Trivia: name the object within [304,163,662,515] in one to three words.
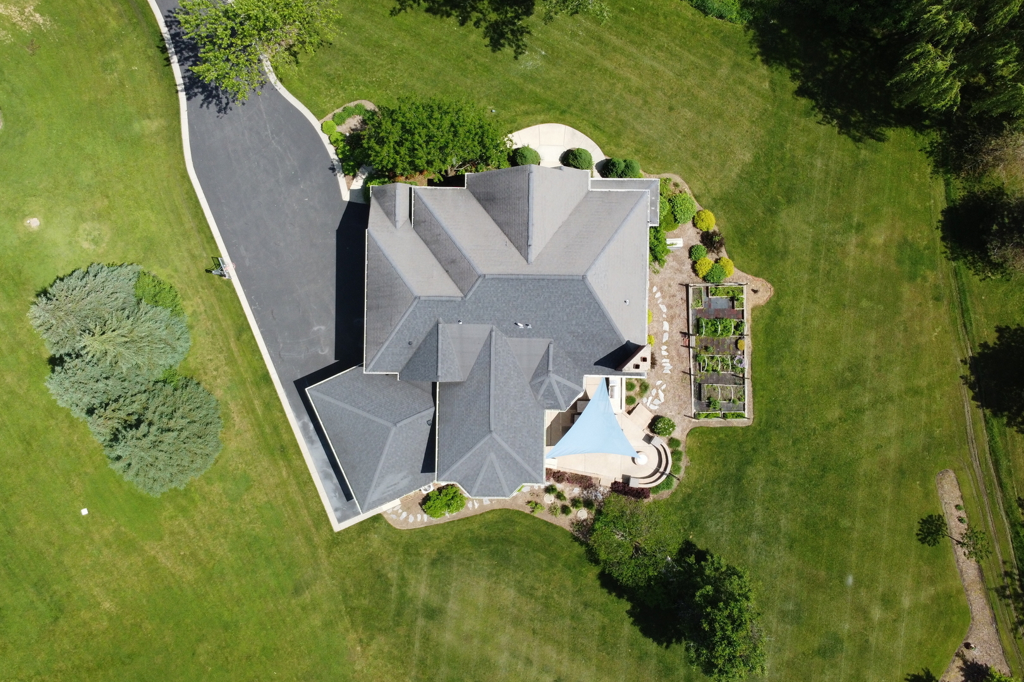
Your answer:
house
